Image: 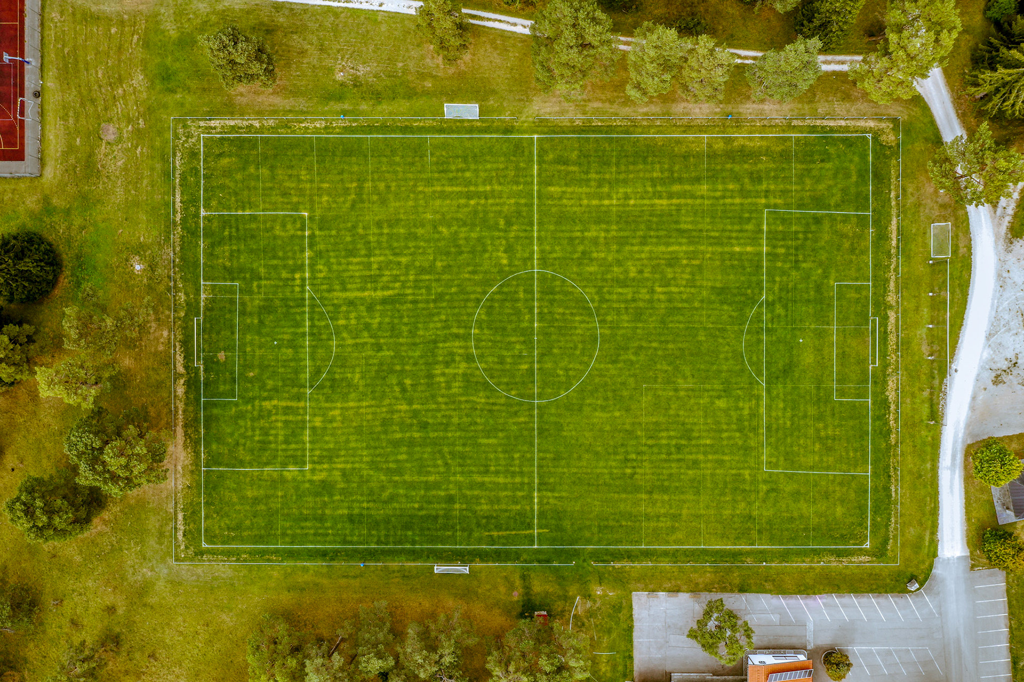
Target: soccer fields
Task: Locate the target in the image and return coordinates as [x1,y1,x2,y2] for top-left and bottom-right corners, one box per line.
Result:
[174,119,898,562]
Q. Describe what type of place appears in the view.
sports ground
